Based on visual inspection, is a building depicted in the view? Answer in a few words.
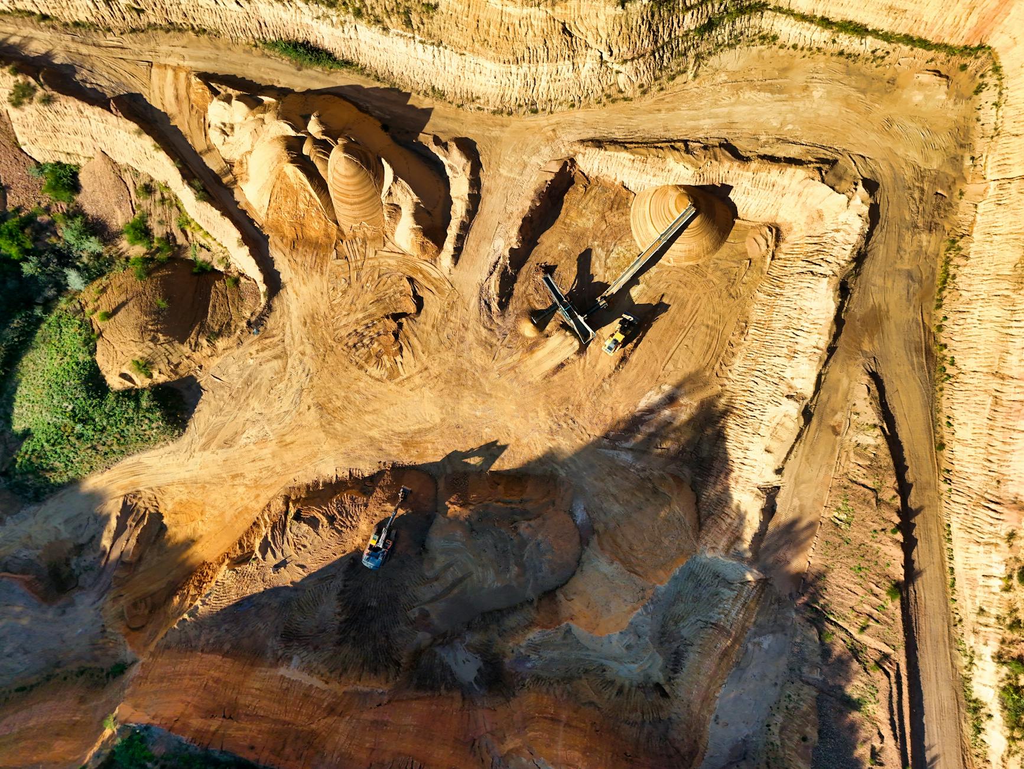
No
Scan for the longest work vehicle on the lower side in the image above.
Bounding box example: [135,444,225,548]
[359,491,408,580]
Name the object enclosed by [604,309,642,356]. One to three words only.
work vehicle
